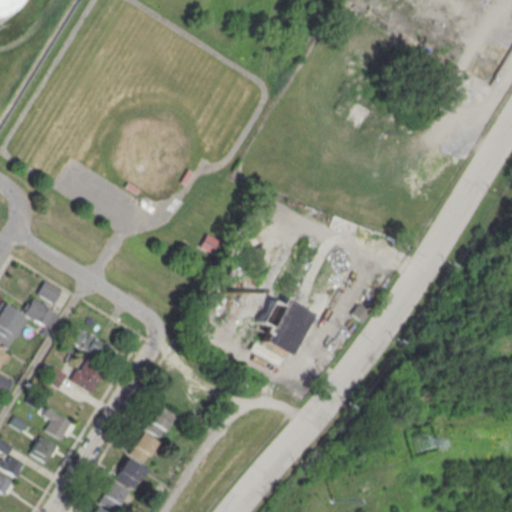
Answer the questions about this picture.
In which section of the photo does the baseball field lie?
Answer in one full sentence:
Look in the top left portion of the view to spot the baseball field.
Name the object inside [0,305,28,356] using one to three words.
house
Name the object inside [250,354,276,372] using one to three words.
vehicle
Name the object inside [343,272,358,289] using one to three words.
work vehicle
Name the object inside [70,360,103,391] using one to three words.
house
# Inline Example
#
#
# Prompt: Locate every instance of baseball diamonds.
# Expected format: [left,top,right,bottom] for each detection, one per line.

[8,0,262,201]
